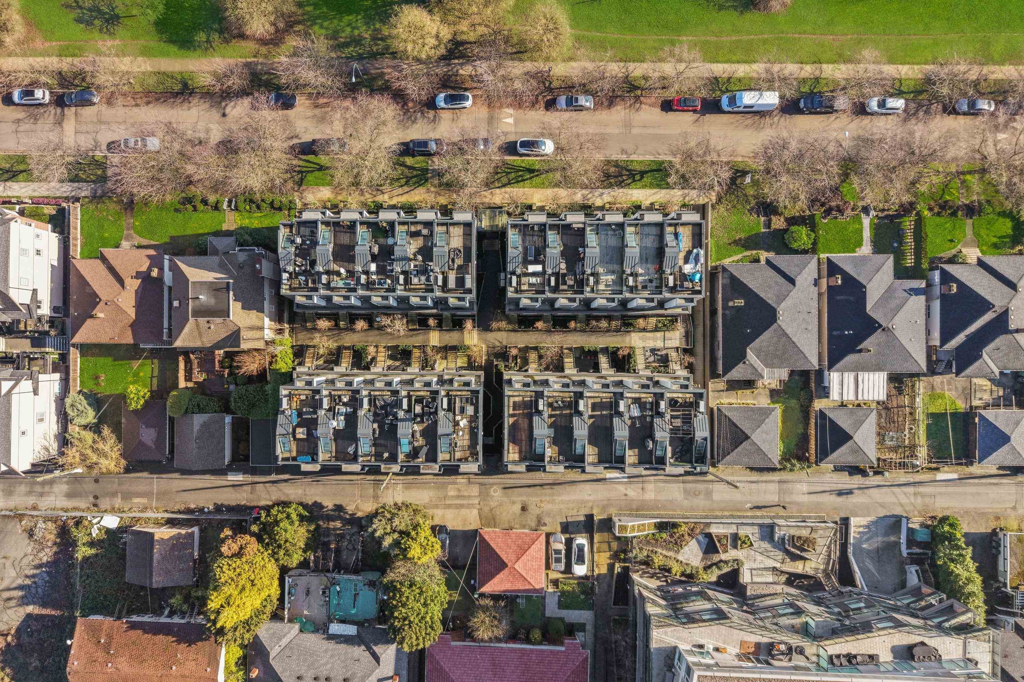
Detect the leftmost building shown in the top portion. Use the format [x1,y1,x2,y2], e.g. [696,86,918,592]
[0,202,70,330]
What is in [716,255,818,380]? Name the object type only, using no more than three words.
house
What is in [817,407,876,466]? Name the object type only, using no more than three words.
building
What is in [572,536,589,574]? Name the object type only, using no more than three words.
car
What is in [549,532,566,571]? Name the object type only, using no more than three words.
car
